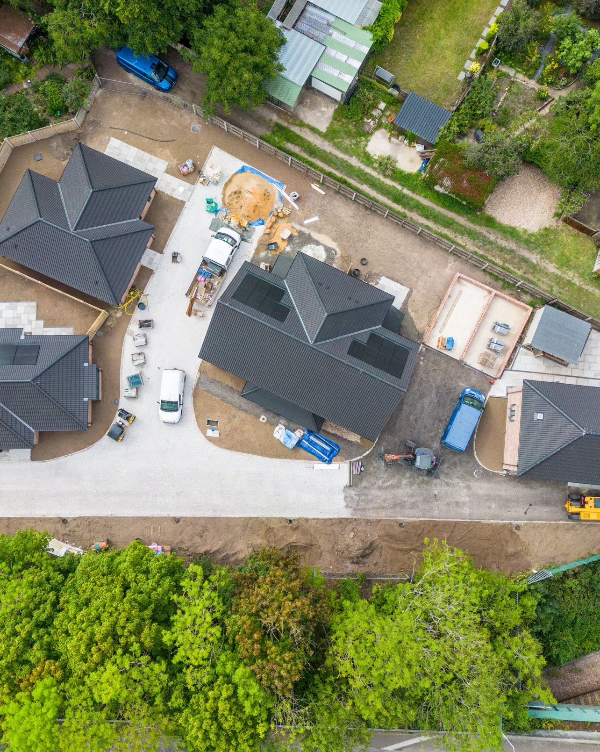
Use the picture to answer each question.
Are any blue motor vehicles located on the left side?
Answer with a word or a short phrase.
Yes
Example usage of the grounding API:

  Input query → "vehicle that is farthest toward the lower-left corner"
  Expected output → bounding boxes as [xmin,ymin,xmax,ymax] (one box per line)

[106,404,145,447]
